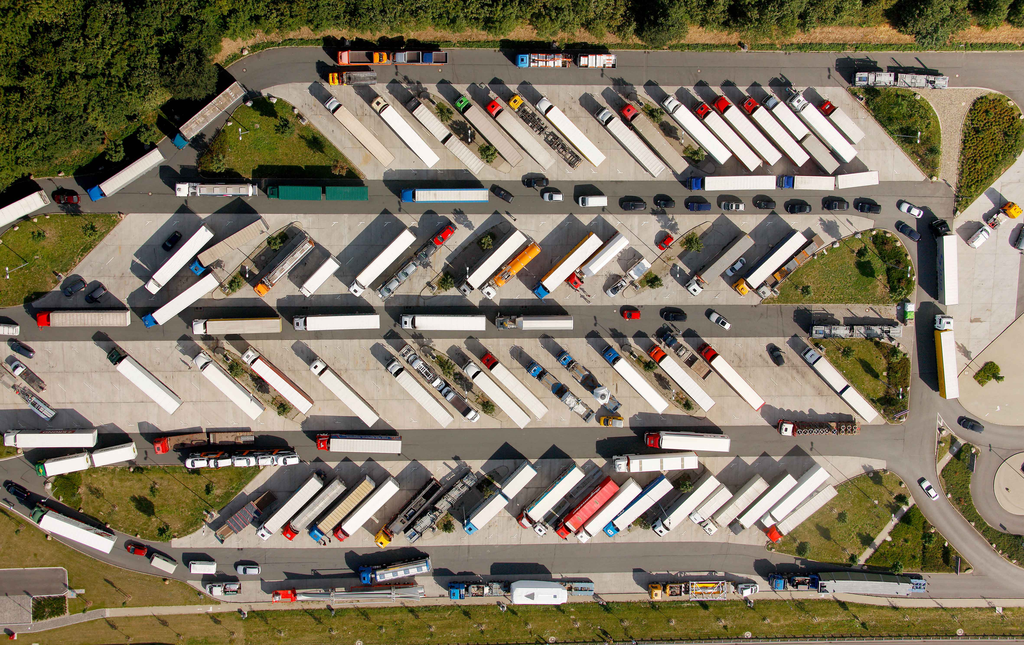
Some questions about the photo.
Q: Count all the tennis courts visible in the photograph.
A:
0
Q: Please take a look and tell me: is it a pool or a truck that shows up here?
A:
truck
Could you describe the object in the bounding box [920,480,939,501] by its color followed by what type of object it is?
white car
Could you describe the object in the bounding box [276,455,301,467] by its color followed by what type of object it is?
white vehicle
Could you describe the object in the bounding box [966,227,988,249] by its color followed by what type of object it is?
white vehicle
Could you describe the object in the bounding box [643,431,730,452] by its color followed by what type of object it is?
white truck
